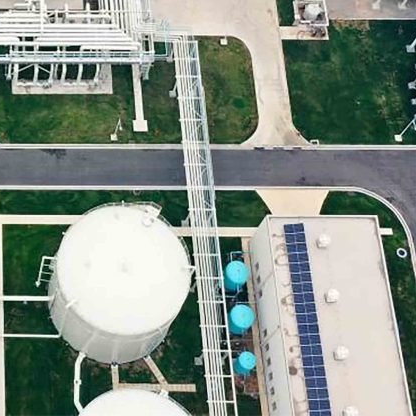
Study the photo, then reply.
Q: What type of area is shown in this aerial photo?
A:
industrial area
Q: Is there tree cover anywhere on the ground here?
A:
No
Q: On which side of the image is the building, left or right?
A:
right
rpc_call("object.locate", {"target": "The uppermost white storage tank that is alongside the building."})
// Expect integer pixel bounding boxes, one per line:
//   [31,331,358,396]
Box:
[42,204,200,367]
